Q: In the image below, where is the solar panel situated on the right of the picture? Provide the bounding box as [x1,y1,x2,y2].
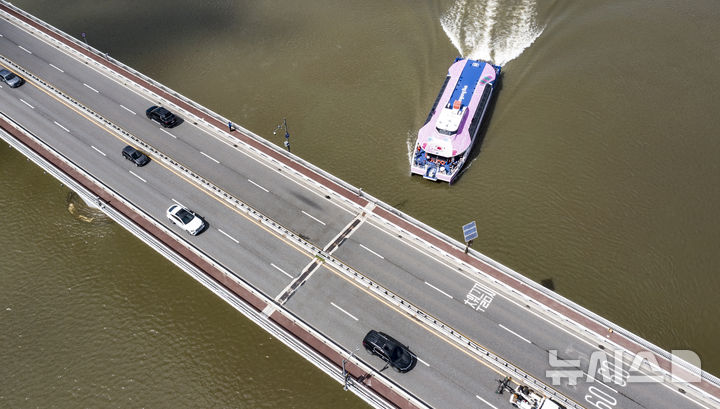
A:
[463,220,477,252]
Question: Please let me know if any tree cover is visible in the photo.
No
